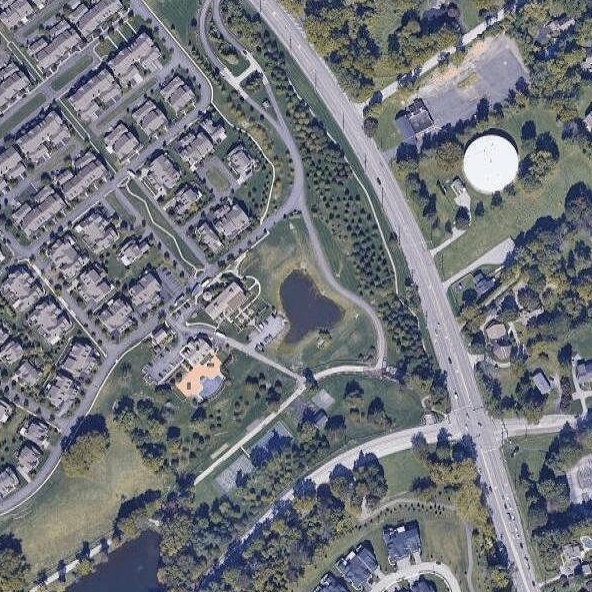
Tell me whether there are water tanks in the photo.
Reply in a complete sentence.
Yes, looking at the shot, I can spot a water tank.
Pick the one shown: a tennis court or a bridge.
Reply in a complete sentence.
Looking from above, you can make out a tennis court.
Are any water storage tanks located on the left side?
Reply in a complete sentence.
No, there's no water storage tank to be seen on the left side.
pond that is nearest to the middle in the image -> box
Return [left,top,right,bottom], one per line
[279,269,343,345]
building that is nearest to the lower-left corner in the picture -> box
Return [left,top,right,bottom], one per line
[0,466,21,496]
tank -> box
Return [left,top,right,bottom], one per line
[463,137,520,192]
